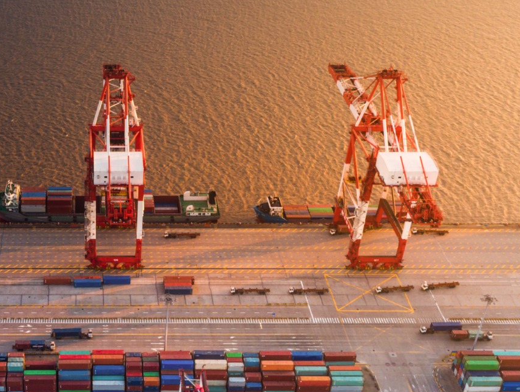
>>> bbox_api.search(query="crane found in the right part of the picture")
[329,59,440,269]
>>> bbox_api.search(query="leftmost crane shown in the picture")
[85,59,147,269]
